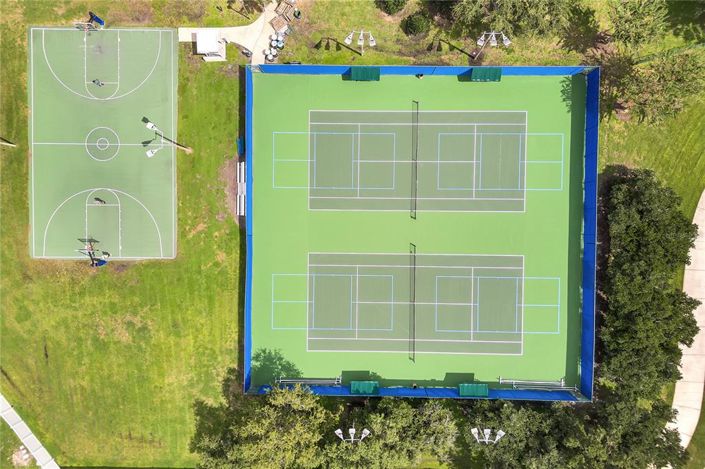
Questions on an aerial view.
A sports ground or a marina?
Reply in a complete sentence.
This image shows a sports ground.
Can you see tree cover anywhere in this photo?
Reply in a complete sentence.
Yes, tree cover shows up in the scene.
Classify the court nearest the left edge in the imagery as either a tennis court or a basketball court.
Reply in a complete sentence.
It turns out the court nearest the left edge is a basketball court.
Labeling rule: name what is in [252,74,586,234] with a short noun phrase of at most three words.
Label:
tennis court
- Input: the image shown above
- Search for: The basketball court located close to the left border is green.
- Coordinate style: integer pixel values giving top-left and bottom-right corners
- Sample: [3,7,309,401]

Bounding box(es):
[28,27,176,261]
